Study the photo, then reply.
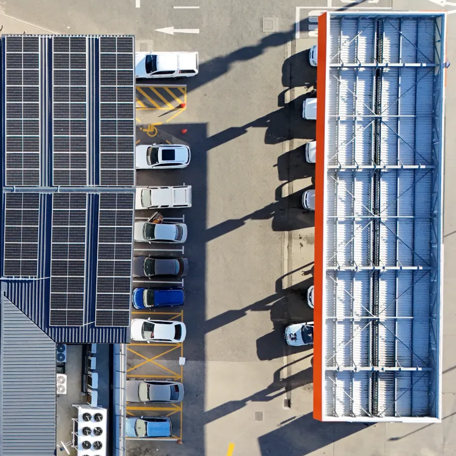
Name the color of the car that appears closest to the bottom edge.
blue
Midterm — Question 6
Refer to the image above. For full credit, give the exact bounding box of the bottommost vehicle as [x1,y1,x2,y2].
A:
[127,414,173,442]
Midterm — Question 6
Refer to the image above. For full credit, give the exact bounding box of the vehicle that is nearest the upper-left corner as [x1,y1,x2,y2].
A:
[135,49,201,82]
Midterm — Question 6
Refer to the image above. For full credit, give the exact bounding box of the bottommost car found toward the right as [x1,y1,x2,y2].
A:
[282,319,311,348]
